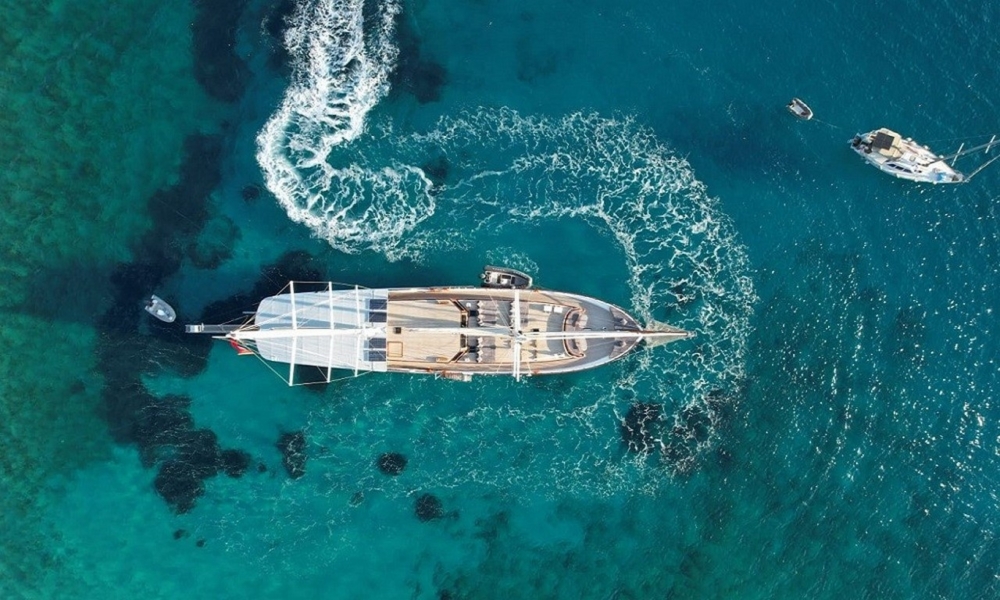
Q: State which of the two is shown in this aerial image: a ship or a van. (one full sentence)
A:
The image shows a ship.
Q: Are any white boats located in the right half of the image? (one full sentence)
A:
Yes, the scene does show a white boat in the right half of the image.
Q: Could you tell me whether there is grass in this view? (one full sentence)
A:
No, there's no grass in this view.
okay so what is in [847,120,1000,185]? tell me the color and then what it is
white boat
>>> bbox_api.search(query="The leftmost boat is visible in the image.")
[146,295,177,322]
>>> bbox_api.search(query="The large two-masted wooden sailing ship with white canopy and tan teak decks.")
[186,279,698,388]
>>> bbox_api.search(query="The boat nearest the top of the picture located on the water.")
[787,99,812,119]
